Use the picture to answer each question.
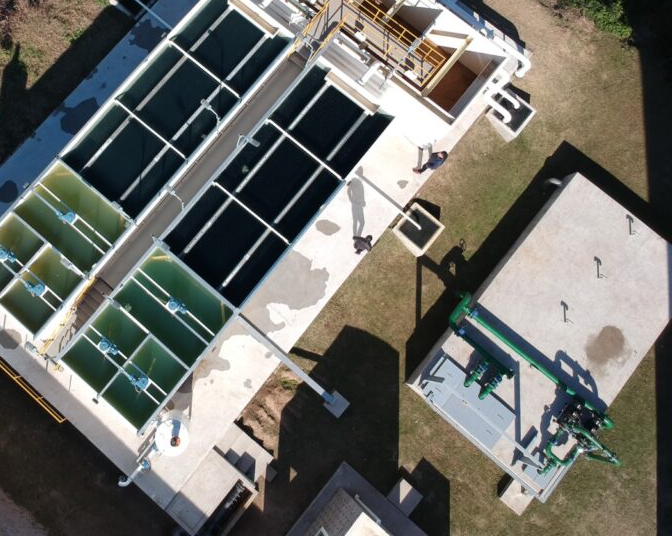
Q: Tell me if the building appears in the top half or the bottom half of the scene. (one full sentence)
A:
It is in the bottom half that the building appears.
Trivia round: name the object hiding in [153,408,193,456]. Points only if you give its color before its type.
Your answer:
white storage tank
